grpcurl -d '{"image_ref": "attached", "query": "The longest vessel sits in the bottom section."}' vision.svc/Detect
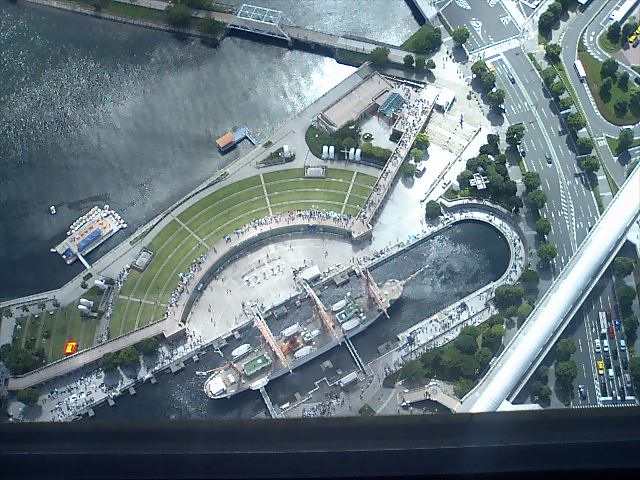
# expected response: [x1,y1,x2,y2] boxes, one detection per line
[167,249,435,419]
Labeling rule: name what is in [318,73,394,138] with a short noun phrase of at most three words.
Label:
building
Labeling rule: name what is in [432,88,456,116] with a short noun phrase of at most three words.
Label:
building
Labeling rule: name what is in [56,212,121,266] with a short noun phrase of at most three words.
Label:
pier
